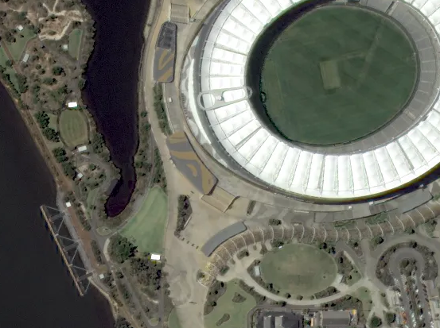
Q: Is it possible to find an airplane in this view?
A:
No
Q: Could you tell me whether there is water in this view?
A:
Yes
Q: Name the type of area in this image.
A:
sports ground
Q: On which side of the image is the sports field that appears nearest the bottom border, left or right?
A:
right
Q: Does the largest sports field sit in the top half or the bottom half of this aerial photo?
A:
top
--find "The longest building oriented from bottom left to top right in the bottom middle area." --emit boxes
[202,222,246,256]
